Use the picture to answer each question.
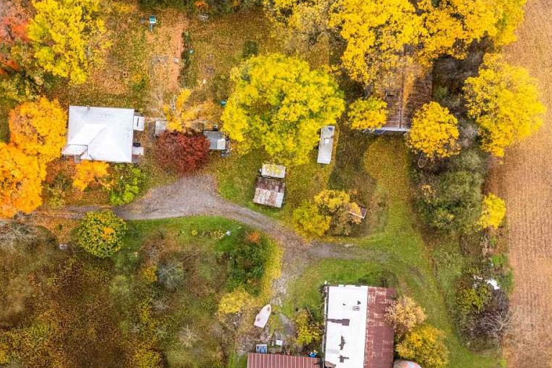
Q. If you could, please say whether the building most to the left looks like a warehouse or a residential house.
residential house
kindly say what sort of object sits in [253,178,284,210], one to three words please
shed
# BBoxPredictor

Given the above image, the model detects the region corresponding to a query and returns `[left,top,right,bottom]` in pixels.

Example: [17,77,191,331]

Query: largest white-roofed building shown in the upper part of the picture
[62,105,144,162]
